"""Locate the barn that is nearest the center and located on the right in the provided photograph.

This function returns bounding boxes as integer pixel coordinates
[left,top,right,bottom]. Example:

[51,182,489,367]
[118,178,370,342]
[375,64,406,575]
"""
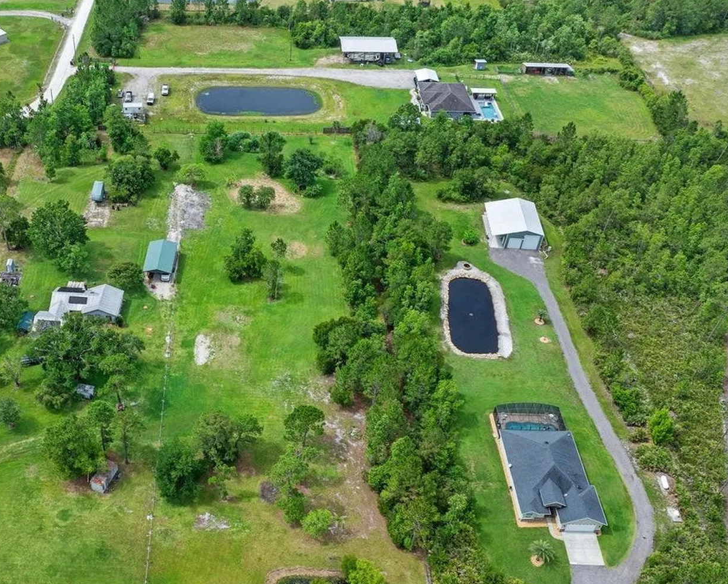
[474,193,546,254]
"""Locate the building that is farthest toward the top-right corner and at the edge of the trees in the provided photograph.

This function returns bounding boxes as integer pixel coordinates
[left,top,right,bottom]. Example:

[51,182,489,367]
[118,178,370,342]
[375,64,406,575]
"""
[519,63,573,79]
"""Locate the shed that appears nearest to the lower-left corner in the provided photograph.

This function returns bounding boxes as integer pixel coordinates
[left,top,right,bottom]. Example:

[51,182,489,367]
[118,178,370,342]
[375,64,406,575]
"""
[90,461,120,493]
